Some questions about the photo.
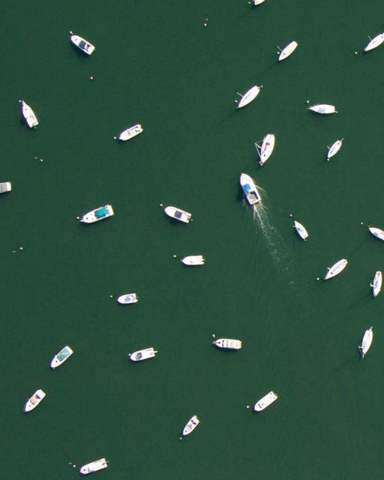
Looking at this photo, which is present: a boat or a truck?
boat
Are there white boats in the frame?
Yes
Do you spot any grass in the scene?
No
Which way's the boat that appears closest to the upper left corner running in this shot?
on a diagonal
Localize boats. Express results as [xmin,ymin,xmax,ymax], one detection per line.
[72,34,95,54]
[258,131,277,164]
[117,294,142,303]
[278,39,299,61]
[182,256,205,265]
[295,221,309,241]
[164,206,194,223]
[239,172,259,205]
[309,103,340,113]
[183,413,202,435]
[51,345,74,367]
[373,271,383,296]
[360,328,373,360]
[130,348,156,361]
[119,122,143,139]
[324,258,348,279]
[212,338,242,349]
[328,137,344,158]
[24,388,46,412]
[237,84,262,108]
[79,458,108,474]
[254,390,280,410]
[370,227,384,239]
[364,32,384,51]
[21,99,39,127]
[78,204,116,222]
